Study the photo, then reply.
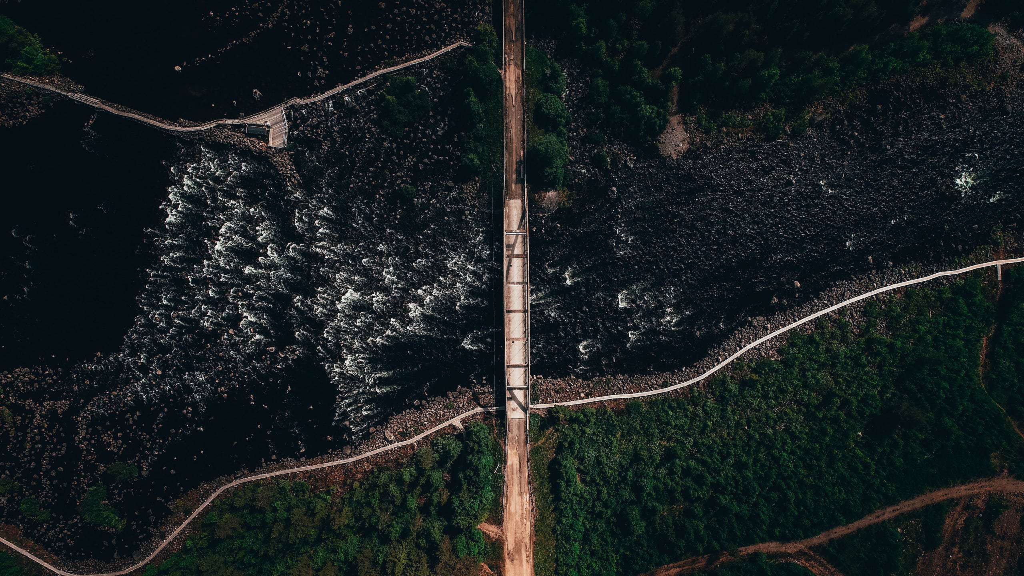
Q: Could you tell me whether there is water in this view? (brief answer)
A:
Yes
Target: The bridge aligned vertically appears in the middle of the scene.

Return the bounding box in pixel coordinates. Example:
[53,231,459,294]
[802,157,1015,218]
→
[503,199,531,419]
